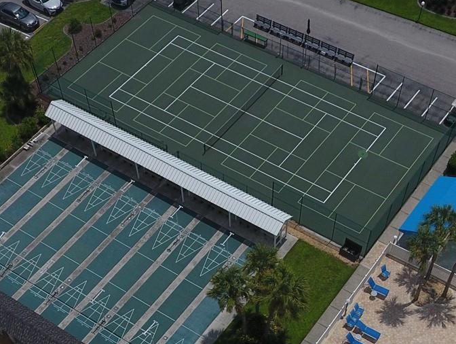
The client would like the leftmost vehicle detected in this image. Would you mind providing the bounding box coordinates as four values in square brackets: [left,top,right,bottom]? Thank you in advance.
[0,0,36,30]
